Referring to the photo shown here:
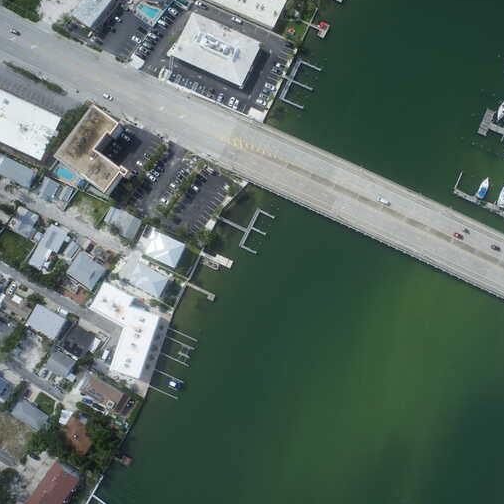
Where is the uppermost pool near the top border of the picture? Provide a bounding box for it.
[133,0,166,25]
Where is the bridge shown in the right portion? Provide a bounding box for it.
[211,109,504,297]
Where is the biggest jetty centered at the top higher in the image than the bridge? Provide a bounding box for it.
[279,58,321,110]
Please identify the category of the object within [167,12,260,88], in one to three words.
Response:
building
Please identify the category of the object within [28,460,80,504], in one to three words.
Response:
building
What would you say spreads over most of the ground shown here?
water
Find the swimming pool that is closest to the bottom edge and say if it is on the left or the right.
left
